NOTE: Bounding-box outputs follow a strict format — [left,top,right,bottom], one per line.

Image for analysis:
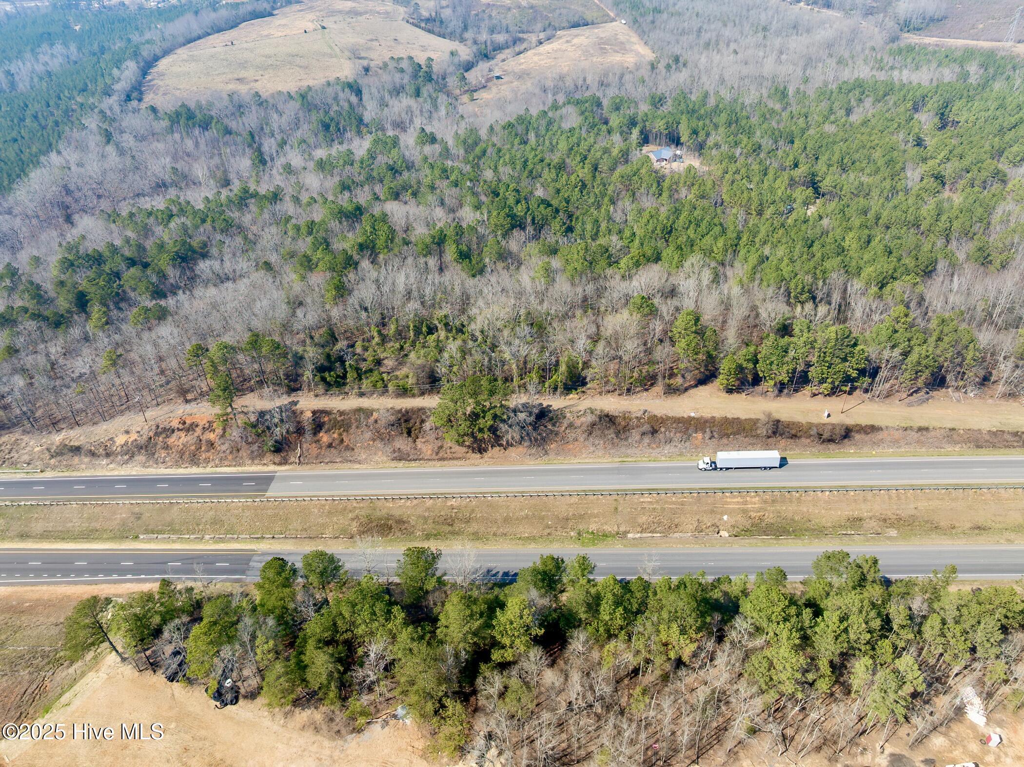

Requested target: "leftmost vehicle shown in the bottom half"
[696,451,782,470]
